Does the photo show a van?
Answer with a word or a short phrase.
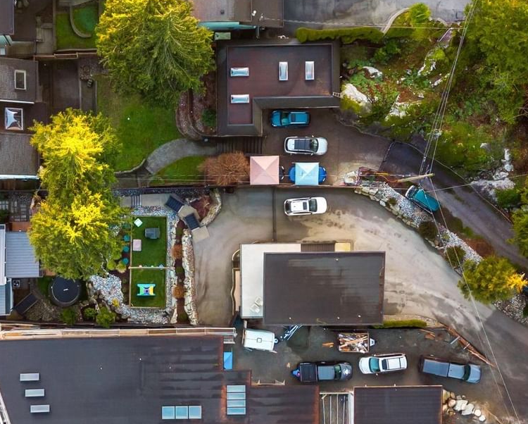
Yes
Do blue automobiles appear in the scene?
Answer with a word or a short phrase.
Yes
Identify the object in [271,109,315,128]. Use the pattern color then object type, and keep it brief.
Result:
blue car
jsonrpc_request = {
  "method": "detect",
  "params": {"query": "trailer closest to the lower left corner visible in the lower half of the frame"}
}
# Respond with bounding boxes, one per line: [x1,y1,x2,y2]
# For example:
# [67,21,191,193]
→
[242,327,284,355]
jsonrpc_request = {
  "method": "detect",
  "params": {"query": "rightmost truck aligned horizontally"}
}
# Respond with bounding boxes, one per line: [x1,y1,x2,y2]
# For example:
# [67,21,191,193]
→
[421,358,486,384]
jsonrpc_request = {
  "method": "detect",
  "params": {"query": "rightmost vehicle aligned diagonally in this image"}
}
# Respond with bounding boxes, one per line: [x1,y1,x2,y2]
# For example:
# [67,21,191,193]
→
[403,180,450,219]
